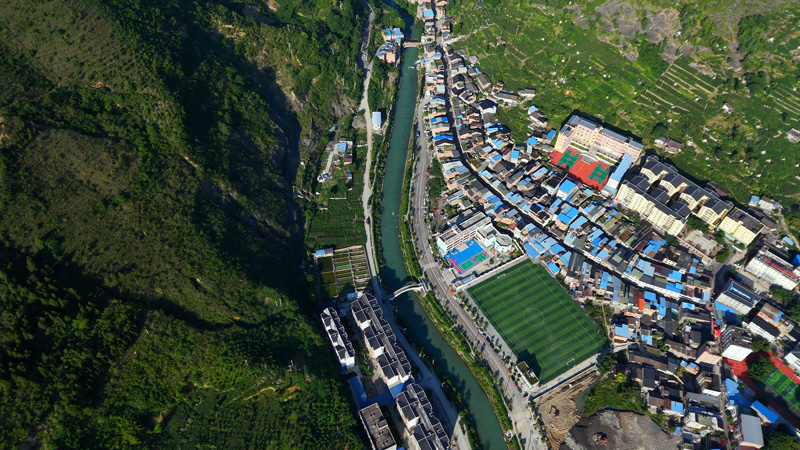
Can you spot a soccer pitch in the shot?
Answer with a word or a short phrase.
Yes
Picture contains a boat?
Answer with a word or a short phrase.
No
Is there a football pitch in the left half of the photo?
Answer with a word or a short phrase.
No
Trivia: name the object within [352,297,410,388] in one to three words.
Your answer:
building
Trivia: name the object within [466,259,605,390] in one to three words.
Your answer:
soccer field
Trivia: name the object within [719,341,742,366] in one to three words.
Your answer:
building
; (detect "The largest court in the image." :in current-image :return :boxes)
[550,147,611,190]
